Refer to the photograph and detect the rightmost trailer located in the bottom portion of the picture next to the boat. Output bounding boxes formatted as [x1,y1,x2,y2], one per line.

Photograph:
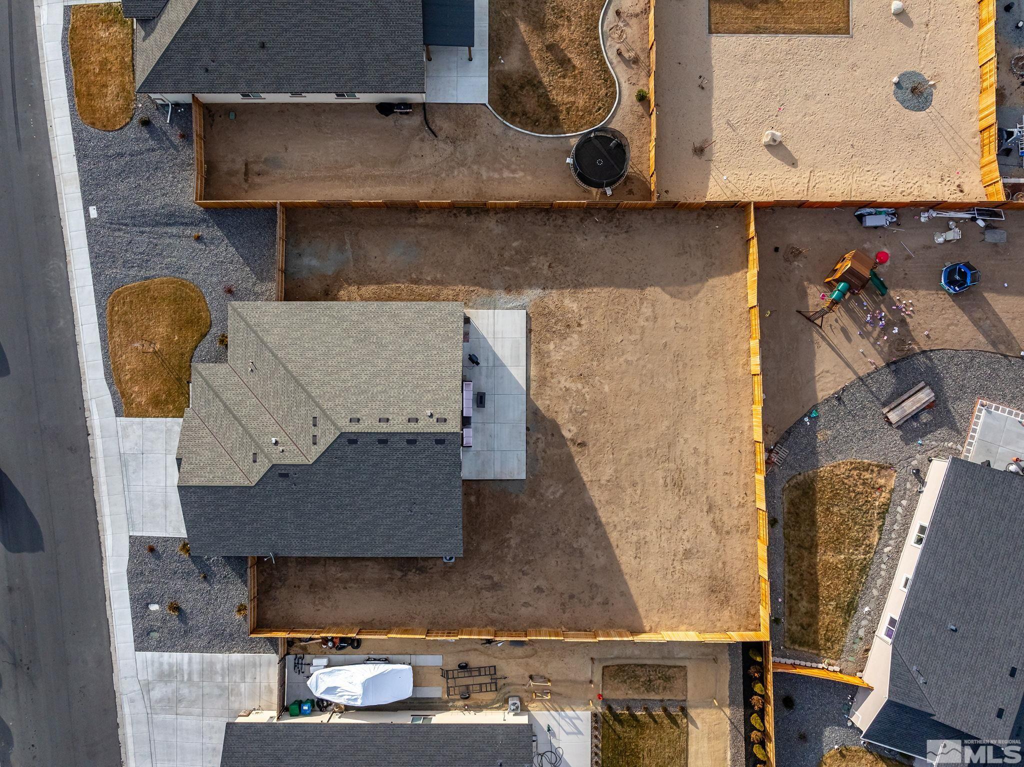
[441,663,509,698]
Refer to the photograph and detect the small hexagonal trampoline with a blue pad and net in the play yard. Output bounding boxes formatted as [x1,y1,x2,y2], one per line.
[939,262,983,296]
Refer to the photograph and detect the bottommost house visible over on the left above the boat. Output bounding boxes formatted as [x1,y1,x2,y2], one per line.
[176,300,464,564]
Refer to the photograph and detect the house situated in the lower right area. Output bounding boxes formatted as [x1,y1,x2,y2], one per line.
[850,456,1024,767]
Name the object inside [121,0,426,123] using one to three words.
house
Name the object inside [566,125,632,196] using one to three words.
trampoline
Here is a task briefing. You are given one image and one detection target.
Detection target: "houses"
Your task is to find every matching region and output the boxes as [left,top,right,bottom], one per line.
[176,300,464,564]
[850,456,1024,767]
[219,709,535,767]
[121,0,426,123]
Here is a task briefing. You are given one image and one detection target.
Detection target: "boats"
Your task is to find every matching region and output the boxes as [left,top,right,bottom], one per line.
[305,662,413,707]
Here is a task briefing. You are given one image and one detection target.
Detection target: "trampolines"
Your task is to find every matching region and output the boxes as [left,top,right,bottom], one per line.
[939,262,983,296]
[566,125,632,196]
